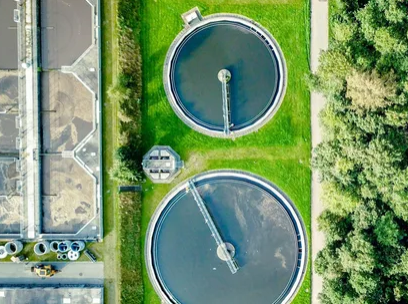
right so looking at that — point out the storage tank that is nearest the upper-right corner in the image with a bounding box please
[164,14,289,138]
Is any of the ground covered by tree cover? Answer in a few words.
Yes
